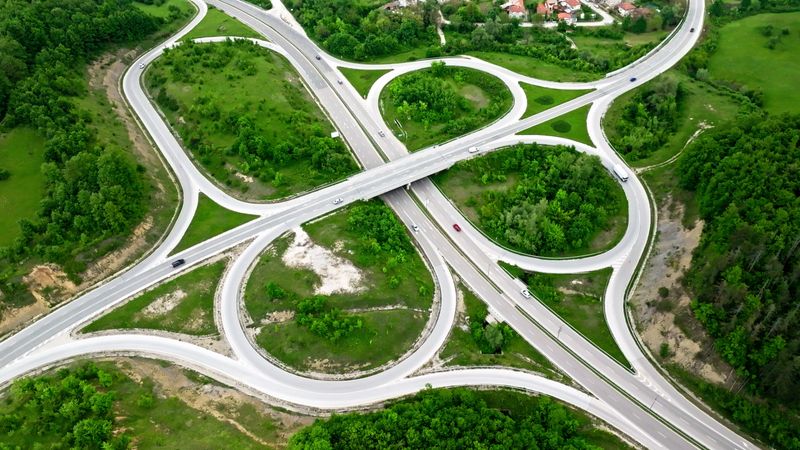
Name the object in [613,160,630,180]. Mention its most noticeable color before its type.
white vehicle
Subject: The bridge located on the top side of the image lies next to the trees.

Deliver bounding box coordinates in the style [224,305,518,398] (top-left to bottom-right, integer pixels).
[344,140,452,208]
